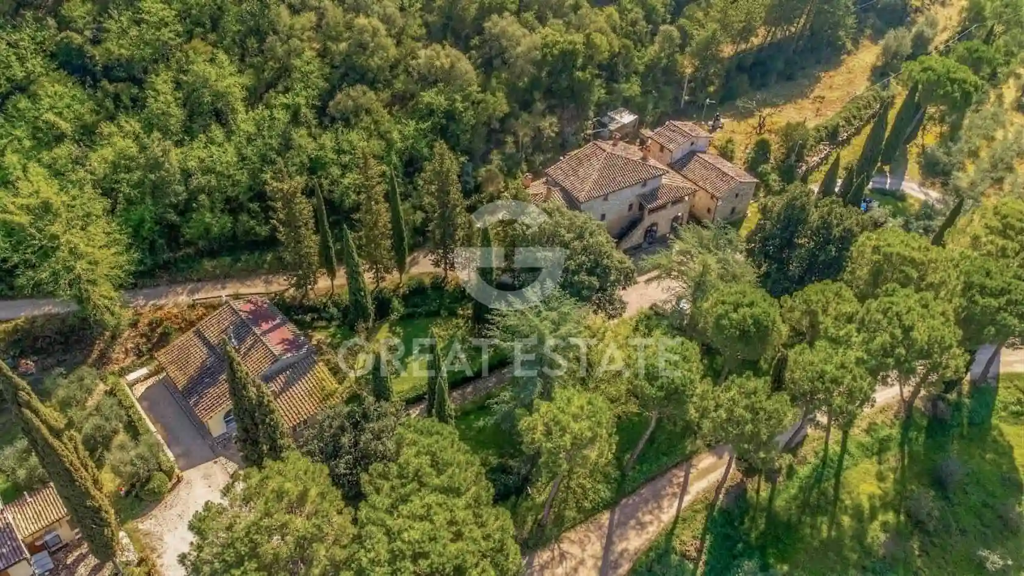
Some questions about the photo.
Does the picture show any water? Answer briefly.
No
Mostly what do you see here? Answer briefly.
trees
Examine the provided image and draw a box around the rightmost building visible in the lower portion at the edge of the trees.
[152,296,342,440]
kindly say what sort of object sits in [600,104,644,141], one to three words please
shed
